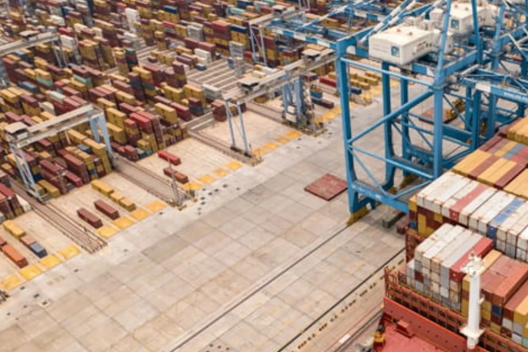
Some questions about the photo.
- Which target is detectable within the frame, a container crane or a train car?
container crane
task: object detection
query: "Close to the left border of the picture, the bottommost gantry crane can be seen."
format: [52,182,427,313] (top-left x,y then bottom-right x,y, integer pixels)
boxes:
[4,105,128,206]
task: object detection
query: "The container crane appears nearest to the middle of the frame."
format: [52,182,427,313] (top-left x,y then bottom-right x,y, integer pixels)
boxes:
[221,71,310,160]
